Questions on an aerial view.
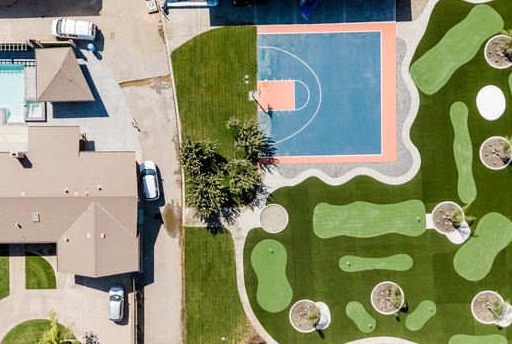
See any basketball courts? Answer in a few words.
Yes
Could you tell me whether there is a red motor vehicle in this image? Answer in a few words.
No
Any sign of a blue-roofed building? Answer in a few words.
No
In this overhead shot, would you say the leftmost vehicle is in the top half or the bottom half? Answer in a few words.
top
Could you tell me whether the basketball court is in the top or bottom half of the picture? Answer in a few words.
top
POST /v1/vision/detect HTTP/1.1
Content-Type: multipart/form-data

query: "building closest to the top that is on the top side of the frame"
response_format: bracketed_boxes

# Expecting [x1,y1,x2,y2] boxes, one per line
[36,46,95,102]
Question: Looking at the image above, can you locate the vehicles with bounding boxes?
[52,18,100,42]
[139,160,160,201]
[108,283,126,320]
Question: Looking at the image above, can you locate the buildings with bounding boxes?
[36,46,95,102]
[0,126,141,277]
